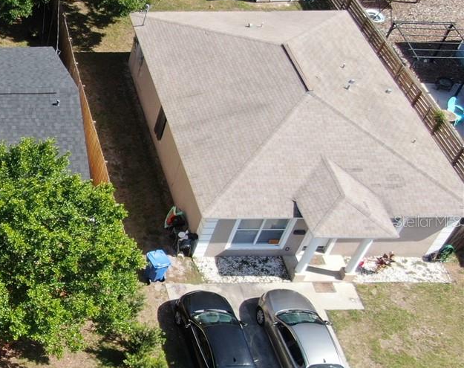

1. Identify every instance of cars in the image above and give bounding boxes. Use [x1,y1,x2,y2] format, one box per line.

[264,289,350,368]
[177,291,259,368]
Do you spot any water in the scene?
No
